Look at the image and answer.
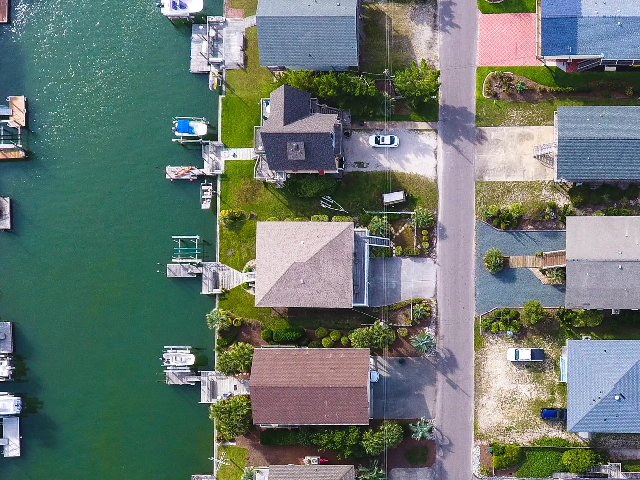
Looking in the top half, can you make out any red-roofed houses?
No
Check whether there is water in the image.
Yes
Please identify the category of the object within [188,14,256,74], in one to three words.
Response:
pier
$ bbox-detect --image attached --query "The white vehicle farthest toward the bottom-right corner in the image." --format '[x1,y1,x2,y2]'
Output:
[506,347,544,363]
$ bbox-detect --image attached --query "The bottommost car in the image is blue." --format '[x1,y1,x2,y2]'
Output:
[541,407,567,421]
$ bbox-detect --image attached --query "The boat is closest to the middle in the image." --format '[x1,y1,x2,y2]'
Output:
[200,180,213,208]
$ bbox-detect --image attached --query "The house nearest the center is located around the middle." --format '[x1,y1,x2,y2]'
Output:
[239,221,390,306]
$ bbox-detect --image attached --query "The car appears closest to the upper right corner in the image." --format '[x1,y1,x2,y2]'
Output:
[368,135,400,148]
